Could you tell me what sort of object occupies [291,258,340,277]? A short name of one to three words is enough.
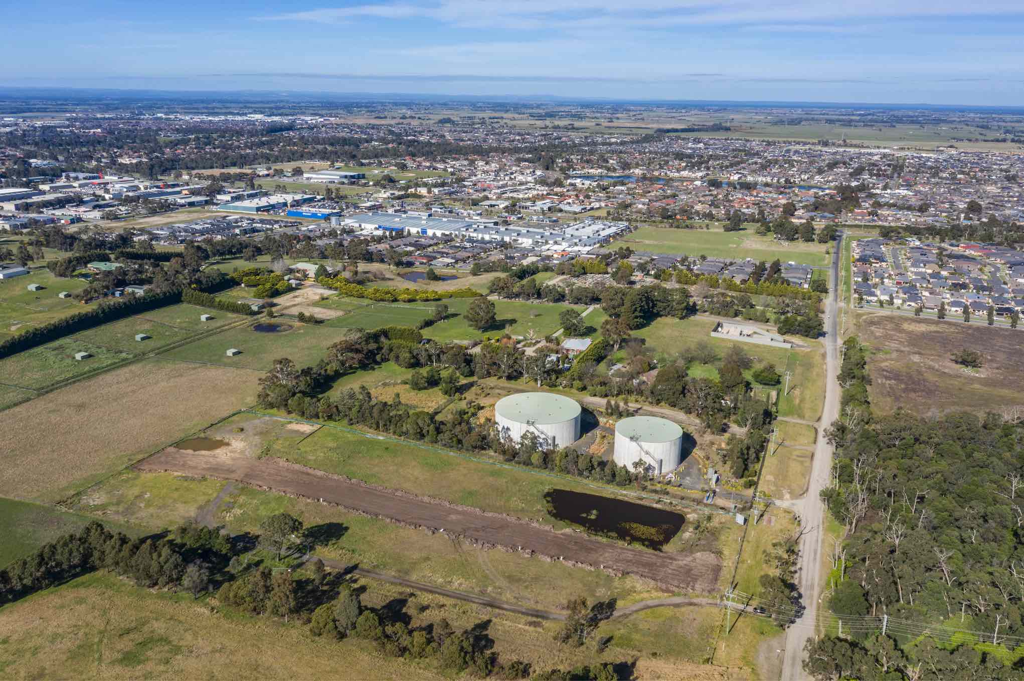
house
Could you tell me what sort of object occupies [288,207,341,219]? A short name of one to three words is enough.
building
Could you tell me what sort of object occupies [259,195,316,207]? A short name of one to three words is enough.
building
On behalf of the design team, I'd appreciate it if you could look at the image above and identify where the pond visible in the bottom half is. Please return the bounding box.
[546,489,685,552]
